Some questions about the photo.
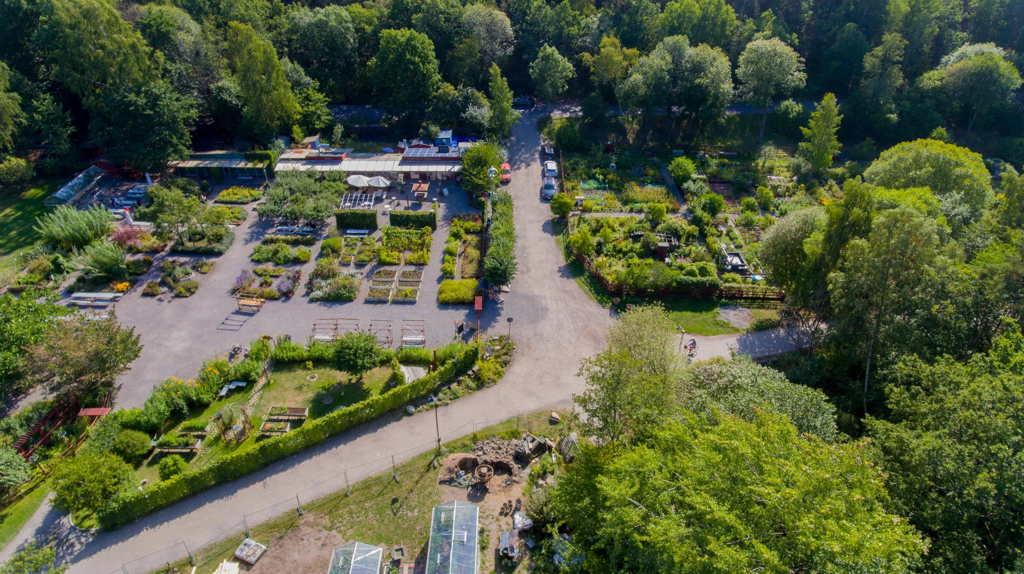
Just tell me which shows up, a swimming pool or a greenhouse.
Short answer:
greenhouse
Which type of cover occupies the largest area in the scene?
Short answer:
trees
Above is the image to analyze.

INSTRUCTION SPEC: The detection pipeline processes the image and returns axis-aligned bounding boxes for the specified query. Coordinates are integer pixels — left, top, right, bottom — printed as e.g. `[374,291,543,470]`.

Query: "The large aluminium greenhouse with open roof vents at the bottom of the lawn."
[422,500,482,574]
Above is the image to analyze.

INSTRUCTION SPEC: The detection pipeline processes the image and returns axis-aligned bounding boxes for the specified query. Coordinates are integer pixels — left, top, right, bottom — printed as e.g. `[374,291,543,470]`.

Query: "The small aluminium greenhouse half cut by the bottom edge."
[325,540,385,574]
